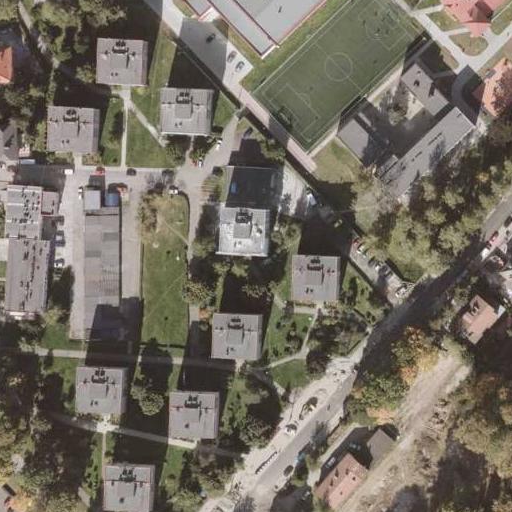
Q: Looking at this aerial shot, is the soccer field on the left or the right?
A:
right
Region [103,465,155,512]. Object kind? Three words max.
building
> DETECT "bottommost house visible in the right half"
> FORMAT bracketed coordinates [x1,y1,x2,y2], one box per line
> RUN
[313,451,370,509]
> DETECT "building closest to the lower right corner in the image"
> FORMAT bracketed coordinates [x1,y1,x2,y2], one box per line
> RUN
[358,427,397,466]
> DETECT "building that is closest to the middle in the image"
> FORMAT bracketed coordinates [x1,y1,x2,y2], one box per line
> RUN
[217,208,269,259]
